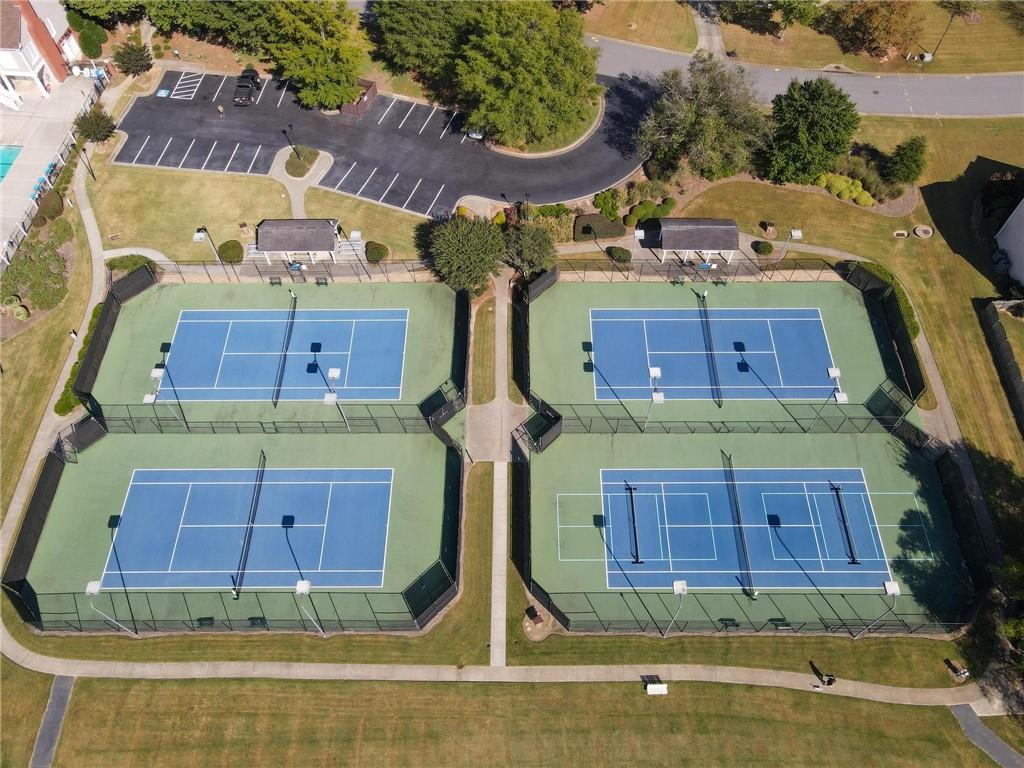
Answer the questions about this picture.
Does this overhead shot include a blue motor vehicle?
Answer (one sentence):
No, this view has no blue motor vehicle in it.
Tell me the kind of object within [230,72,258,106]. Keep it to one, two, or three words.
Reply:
truck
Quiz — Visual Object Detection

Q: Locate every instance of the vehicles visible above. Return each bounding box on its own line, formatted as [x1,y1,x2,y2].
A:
[230,72,258,106]
[463,120,482,140]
